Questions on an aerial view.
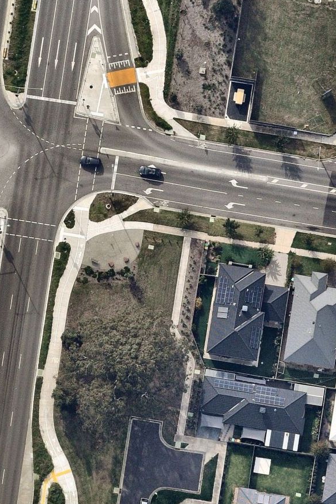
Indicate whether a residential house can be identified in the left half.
No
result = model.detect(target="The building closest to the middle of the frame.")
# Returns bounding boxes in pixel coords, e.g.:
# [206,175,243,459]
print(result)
[207,261,290,361]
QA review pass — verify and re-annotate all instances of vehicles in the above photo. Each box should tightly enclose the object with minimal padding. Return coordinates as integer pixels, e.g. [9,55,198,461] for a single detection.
[80,156,102,168]
[139,496,149,504]
[138,167,162,178]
